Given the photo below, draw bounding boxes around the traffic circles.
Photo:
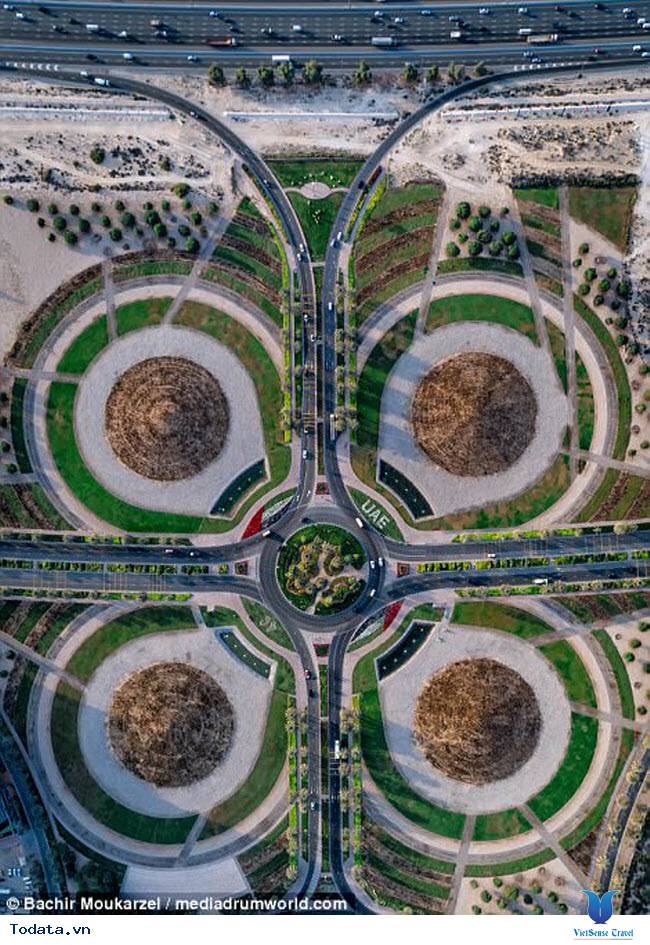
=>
[259,506,385,631]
